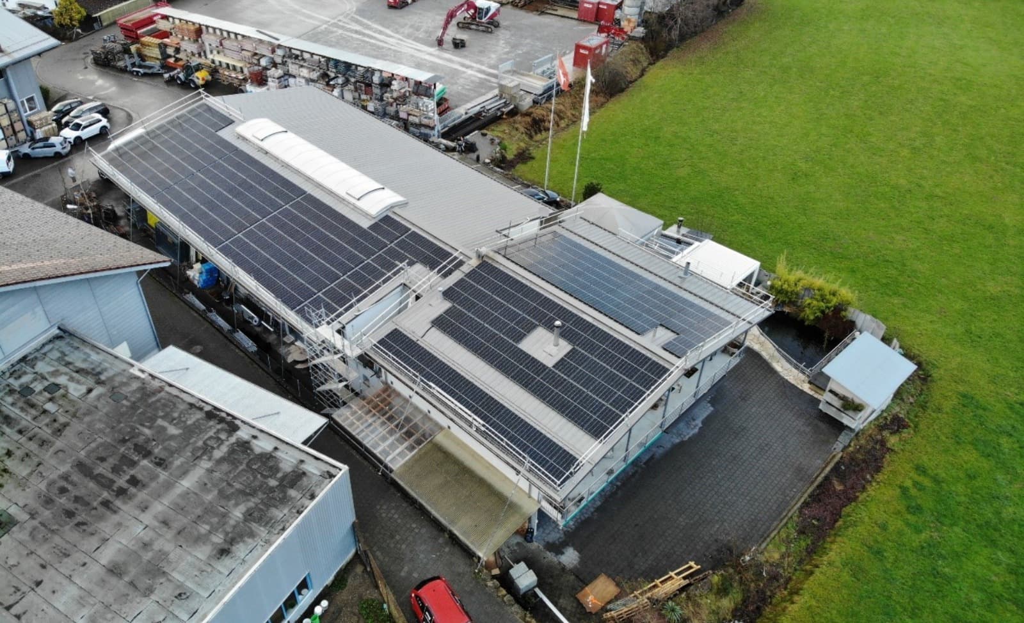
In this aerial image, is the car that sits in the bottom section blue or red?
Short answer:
red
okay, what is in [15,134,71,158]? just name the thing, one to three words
car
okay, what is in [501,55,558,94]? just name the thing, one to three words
trailer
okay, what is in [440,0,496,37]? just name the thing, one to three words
work vehicle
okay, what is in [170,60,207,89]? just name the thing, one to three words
work vehicle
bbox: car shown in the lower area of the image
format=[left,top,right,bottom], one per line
[414,579,474,623]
